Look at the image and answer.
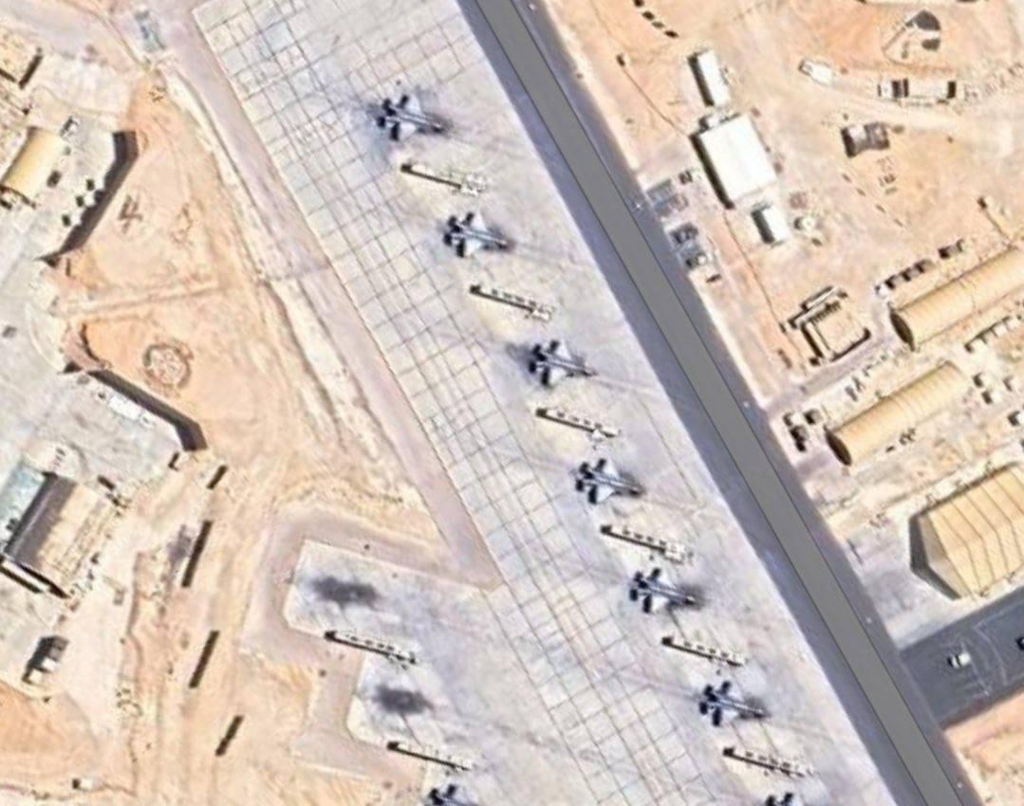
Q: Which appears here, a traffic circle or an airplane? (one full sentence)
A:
There is an airplane in the scene.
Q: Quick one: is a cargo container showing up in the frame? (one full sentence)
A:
Yes, there is a cargo container in the image.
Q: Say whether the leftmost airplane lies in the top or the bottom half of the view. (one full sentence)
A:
It is in the top half that the leftmost airplane appears.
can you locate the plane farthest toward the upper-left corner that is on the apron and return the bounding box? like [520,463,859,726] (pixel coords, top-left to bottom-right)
[386,96,449,138]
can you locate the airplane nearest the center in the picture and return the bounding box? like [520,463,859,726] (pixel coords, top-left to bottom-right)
[537,341,598,383]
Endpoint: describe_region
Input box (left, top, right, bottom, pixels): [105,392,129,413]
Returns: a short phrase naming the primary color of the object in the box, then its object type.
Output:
white truck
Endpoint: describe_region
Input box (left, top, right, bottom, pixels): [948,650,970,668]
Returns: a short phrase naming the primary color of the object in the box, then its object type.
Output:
white vehicle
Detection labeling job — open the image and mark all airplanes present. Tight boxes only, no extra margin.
[452,215,514,257]
[585,461,646,503]
[537,341,598,383]
[386,96,449,138]
[440,788,477,806]
[709,684,769,725]
[639,571,700,612]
